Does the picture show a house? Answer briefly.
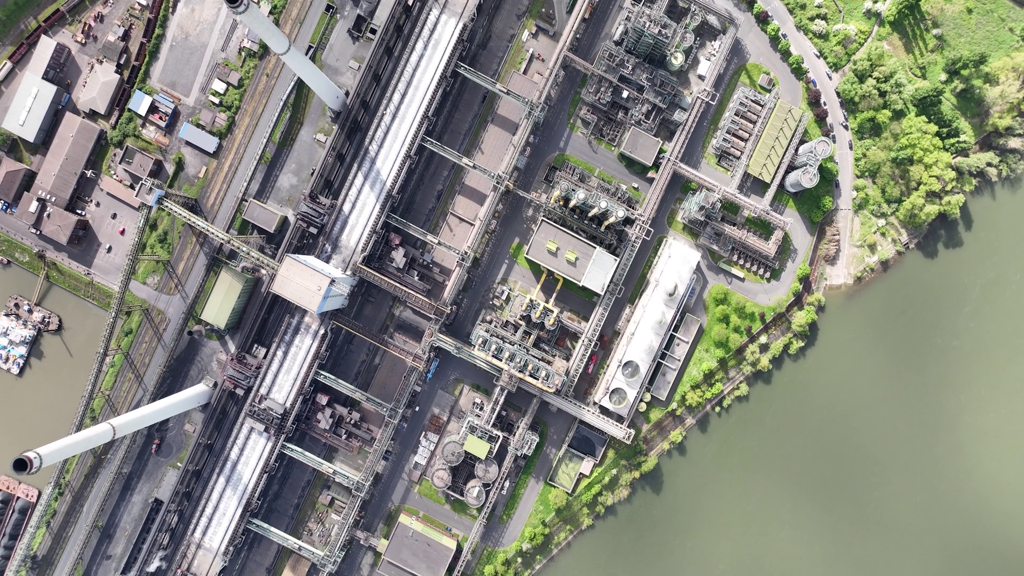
Yes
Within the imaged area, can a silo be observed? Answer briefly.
Yes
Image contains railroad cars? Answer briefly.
Yes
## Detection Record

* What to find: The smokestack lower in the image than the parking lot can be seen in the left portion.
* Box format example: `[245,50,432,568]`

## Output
[10,383,219,475]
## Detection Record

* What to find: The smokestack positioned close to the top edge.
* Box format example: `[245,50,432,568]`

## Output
[223,0,350,113]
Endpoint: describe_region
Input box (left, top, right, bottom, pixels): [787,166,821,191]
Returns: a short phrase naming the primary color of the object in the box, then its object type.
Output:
white silo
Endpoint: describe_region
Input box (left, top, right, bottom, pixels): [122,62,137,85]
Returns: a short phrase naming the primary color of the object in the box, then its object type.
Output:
black rail car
